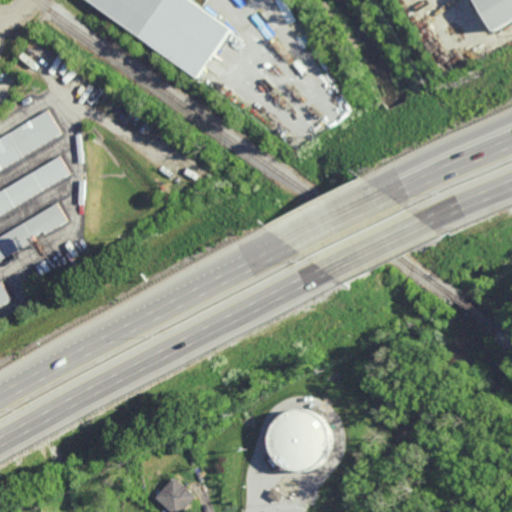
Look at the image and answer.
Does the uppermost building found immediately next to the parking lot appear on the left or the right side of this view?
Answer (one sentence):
You can find the uppermost building found immediately next to the parking lot on the left side of the picture.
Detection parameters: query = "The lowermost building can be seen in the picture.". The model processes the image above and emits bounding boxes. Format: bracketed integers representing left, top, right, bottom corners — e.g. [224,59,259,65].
[156,480,194,512]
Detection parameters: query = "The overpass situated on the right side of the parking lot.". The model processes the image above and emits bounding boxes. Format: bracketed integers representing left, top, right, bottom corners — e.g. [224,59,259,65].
[258,170,444,292]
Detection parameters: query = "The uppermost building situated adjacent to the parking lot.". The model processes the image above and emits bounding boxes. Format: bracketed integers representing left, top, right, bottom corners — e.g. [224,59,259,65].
[86,0,234,78]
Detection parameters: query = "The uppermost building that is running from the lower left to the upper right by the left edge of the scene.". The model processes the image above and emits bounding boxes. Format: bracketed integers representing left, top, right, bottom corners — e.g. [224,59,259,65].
[0,110,66,172]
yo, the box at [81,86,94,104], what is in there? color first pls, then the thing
white vehicle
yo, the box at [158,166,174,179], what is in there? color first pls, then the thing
white vehicle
